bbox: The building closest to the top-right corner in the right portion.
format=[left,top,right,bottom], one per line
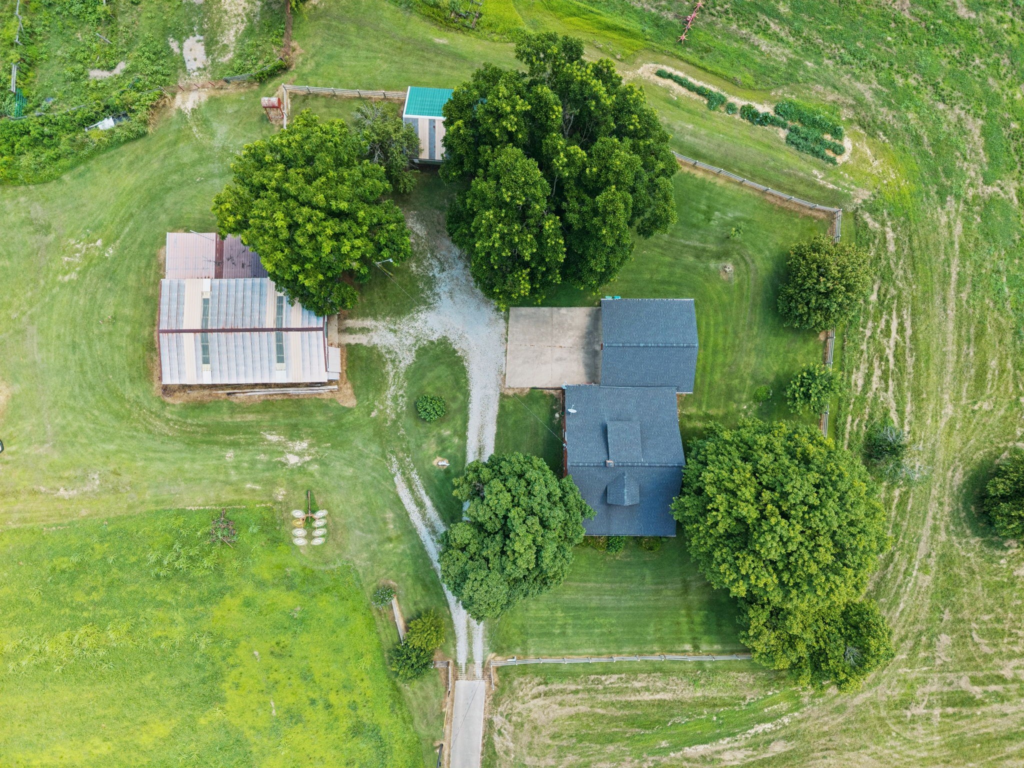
[600,299,698,394]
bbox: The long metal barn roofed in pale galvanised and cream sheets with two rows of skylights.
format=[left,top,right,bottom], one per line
[154,278,334,385]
